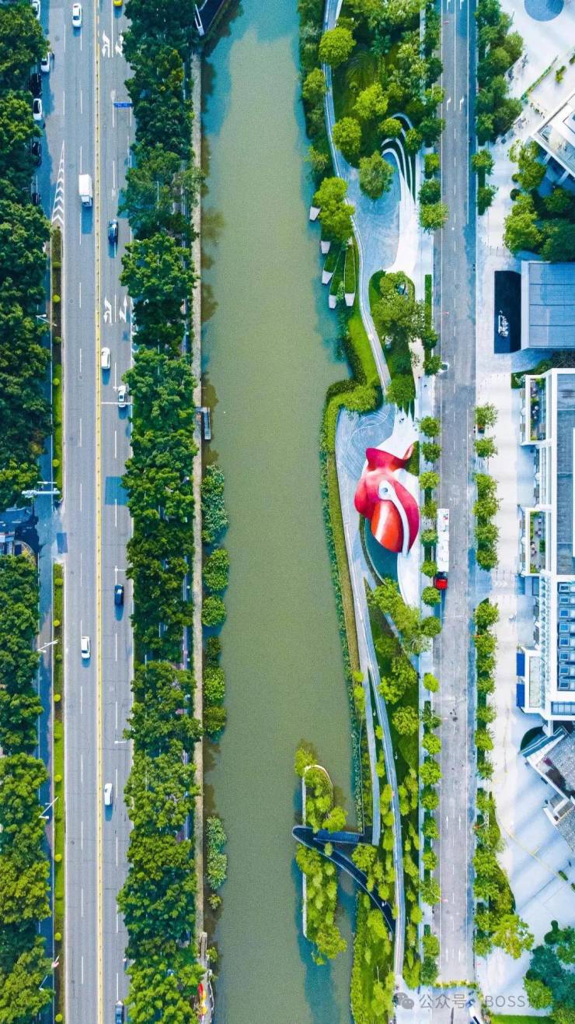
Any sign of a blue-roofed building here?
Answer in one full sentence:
Yes, there is a blue-roofed building in the image.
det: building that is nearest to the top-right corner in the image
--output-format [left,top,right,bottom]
[530,93,575,195]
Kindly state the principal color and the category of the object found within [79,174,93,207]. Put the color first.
white vehicle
